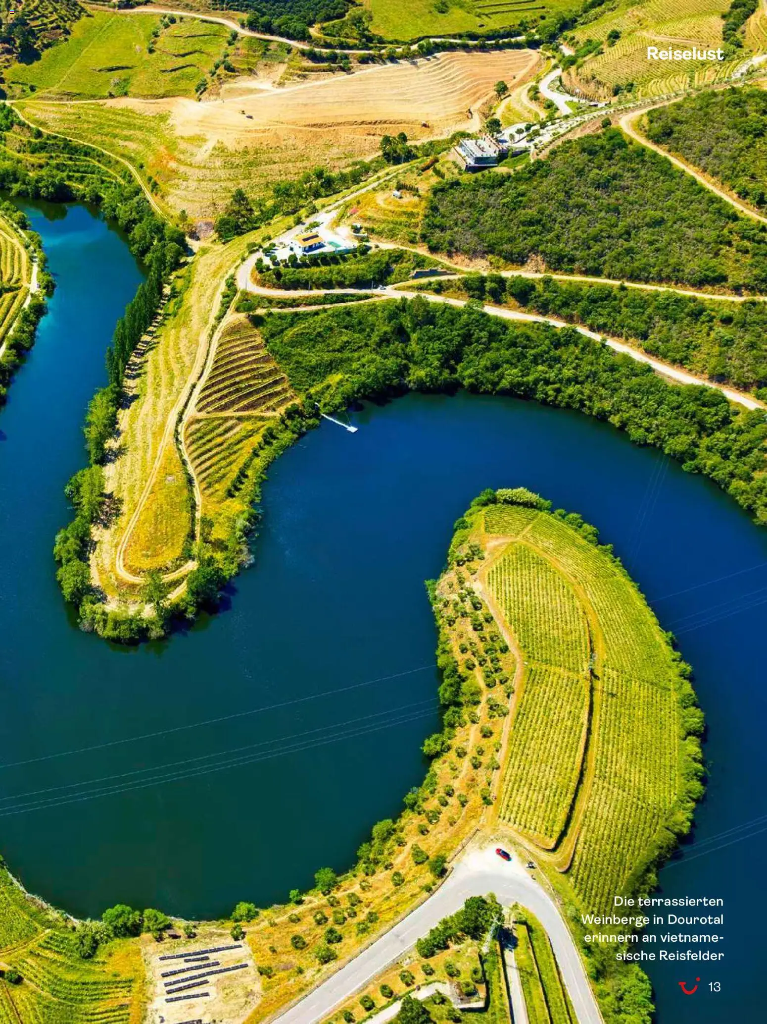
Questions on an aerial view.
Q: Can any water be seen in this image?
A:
Yes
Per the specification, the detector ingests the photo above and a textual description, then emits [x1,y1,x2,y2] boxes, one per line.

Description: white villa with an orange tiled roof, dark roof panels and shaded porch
[298,232,332,252]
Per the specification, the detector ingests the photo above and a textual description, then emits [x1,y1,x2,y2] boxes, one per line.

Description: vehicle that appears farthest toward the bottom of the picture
[495,845,513,860]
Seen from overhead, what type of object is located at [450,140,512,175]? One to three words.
building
